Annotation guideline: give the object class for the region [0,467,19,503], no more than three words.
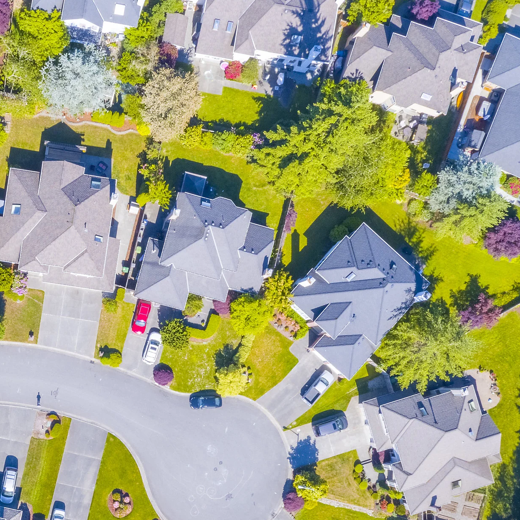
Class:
car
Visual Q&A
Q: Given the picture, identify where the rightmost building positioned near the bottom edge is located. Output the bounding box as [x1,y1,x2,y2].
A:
[359,385,503,516]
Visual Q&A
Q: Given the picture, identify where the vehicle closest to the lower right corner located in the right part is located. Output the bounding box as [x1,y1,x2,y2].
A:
[310,413,350,437]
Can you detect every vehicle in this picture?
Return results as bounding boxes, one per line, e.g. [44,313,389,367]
[0,467,19,503]
[141,329,163,365]
[456,0,474,19]
[132,299,152,334]
[310,413,350,437]
[51,509,66,520]
[301,367,336,406]
[189,394,223,410]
